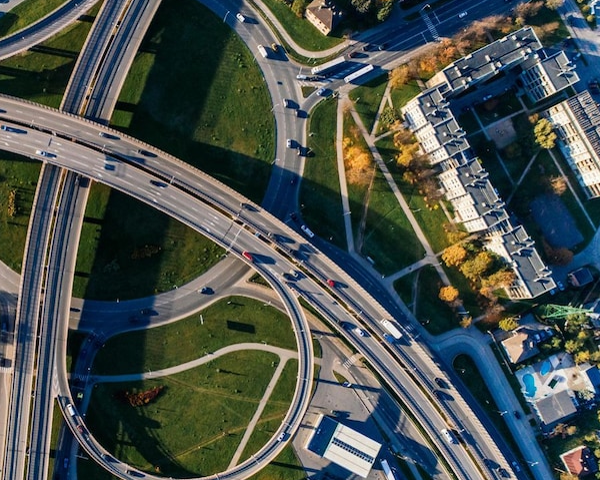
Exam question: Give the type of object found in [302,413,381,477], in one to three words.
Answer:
building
